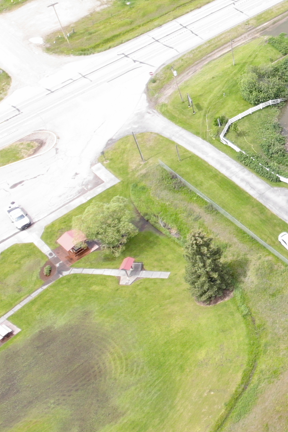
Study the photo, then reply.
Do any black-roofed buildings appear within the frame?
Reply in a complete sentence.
No, no black-roofed building is visible in the scene.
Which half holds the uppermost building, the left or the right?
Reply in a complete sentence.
It is on the left.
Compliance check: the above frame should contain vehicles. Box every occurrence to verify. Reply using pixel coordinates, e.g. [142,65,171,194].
[274,227,288,249]
[0,200,29,228]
